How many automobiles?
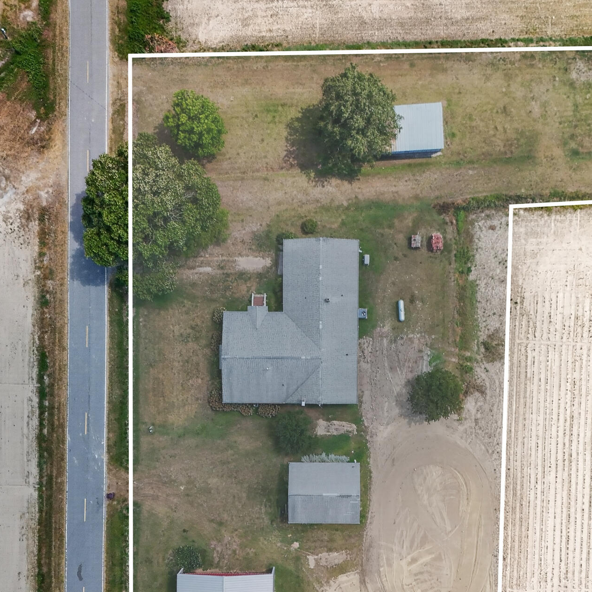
none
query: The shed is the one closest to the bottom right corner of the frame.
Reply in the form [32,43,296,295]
[287,461,361,524]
